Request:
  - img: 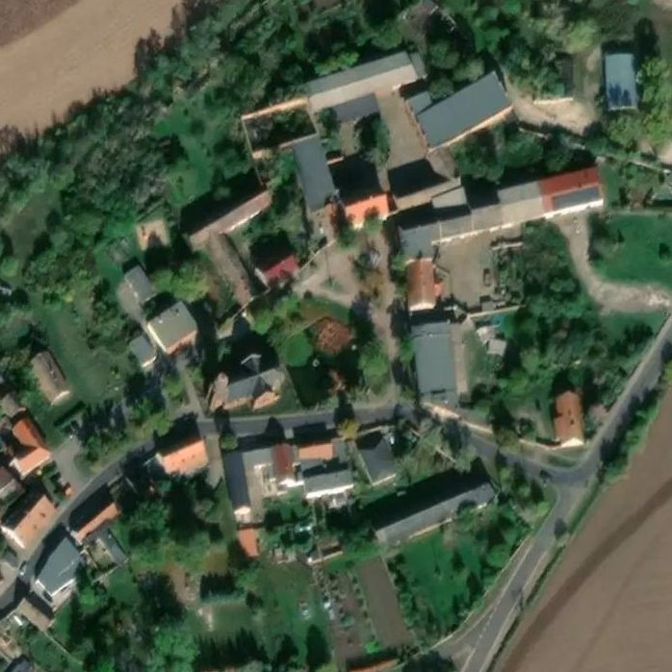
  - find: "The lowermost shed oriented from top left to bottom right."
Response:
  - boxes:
[17,596,55,633]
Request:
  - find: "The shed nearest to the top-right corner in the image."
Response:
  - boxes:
[607,56,637,112]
